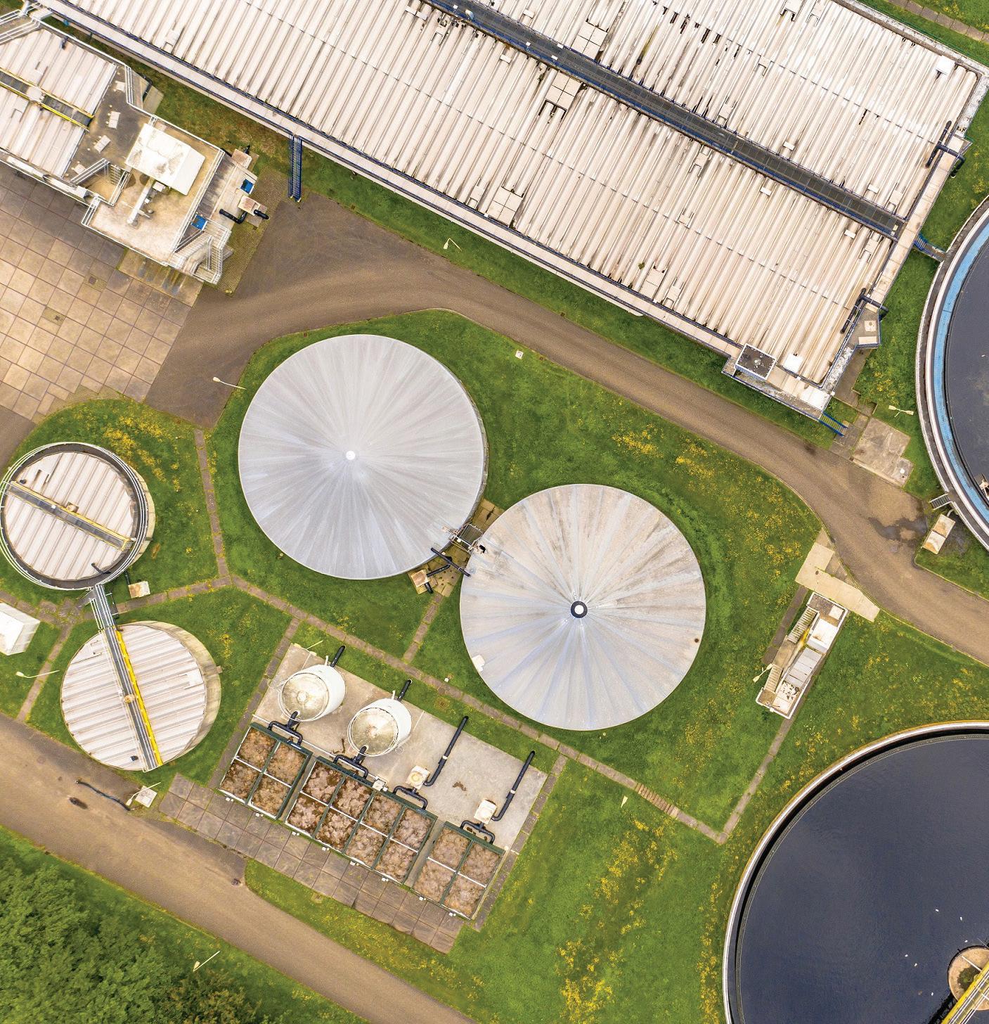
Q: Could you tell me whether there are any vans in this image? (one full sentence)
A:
No, the picture doesn't show any van.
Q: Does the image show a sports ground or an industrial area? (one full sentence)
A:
What you see here is an industrial area.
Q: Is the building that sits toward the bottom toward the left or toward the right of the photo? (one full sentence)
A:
The building that sits toward the bottom is on the right side of the image.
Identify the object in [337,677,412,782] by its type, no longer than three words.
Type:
silo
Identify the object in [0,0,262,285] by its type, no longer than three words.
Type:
building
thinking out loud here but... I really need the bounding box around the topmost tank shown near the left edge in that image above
[0,444,153,588]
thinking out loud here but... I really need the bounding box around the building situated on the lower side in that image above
[755,591,849,718]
